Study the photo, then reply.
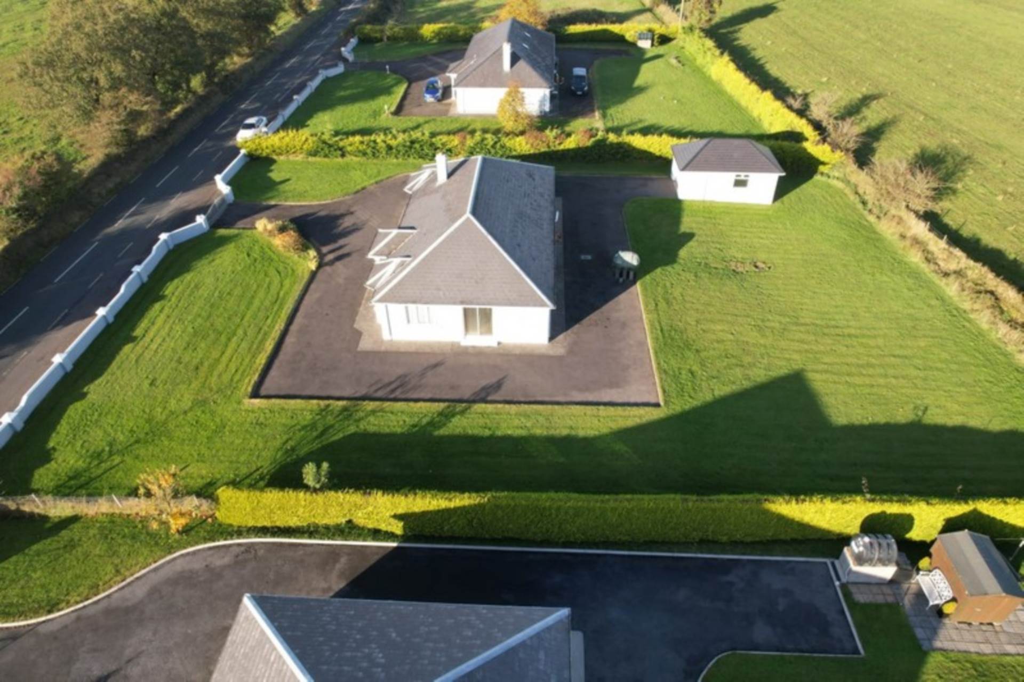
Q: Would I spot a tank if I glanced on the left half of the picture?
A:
No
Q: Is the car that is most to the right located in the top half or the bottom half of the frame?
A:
top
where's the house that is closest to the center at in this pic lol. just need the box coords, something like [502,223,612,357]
[365,149,556,342]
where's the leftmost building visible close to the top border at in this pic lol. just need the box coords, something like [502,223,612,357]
[443,18,554,111]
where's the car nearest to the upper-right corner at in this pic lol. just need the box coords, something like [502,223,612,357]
[568,68,588,92]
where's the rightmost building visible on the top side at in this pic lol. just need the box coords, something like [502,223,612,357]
[667,139,786,201]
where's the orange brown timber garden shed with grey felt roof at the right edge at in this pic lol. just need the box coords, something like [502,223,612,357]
[920,531,1024,627]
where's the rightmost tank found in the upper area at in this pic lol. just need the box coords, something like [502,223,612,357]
[613,248,641,282]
